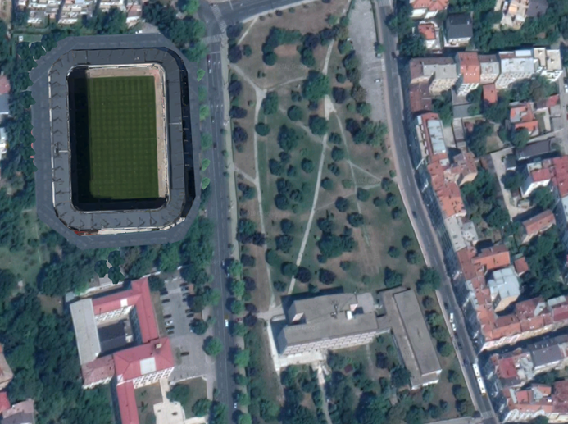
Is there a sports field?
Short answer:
Yes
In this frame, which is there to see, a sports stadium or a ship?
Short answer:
sports stadium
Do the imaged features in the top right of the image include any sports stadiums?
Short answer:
No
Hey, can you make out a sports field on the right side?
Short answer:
No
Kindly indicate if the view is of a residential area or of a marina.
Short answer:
residential area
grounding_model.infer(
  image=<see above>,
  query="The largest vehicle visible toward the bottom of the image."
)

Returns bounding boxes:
[474,365,486,392]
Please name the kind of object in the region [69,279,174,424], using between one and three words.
building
